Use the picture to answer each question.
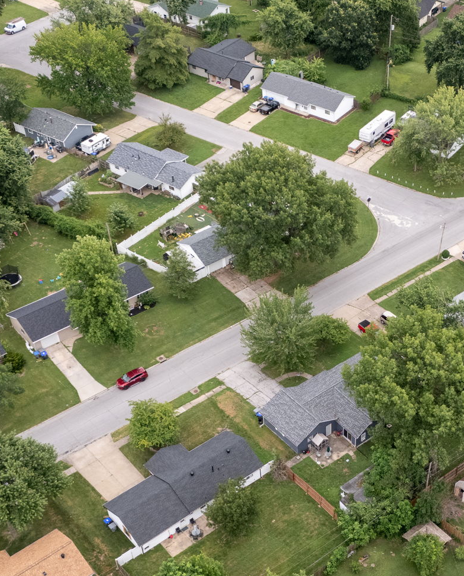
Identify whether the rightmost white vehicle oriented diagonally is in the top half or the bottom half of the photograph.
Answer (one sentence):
The rightmost white vehicle oriented diagonally sits in the top half of the picture.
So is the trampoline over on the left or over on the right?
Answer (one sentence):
You can find the trampoline on the left side of the picture.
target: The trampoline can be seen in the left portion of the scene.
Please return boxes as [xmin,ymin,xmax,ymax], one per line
[1,264,24,287]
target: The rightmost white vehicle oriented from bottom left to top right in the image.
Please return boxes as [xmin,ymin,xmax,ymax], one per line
[361,106,397,147]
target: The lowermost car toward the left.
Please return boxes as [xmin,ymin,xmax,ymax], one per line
[114,363,150,387]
